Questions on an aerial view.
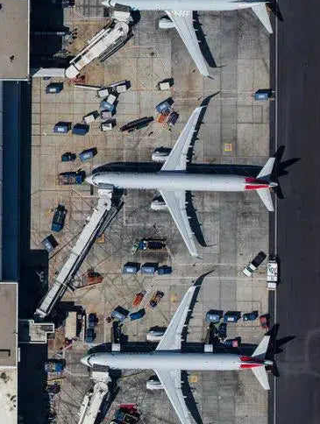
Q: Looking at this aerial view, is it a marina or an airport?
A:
airport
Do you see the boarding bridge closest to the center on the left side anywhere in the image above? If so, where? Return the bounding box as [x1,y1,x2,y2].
[35,183,117,320]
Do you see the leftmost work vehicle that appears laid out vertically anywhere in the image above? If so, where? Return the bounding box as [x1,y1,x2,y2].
[51,198,66,234]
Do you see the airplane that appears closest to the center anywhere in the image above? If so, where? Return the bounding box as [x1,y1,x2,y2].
[85,106,277,261]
